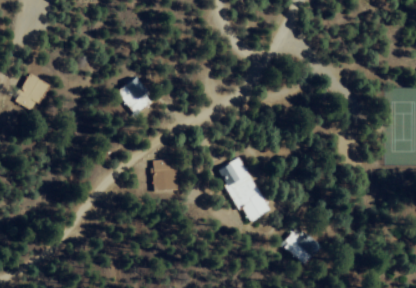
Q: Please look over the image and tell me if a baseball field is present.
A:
No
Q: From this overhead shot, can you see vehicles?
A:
No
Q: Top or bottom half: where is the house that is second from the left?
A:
top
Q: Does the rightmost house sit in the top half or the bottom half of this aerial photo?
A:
bottom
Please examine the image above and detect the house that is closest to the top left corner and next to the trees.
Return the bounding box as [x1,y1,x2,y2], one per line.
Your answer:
[15,74,50,110]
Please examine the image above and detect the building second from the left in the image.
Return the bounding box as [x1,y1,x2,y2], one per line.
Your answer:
[119,78,152,112]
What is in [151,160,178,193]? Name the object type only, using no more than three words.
house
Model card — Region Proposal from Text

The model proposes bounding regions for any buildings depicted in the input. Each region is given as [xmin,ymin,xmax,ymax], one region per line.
[15,74,50,110]
[282,231,319,264]
[151,160,178,193]
[119,78,152,112]
[220,158,270,220]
